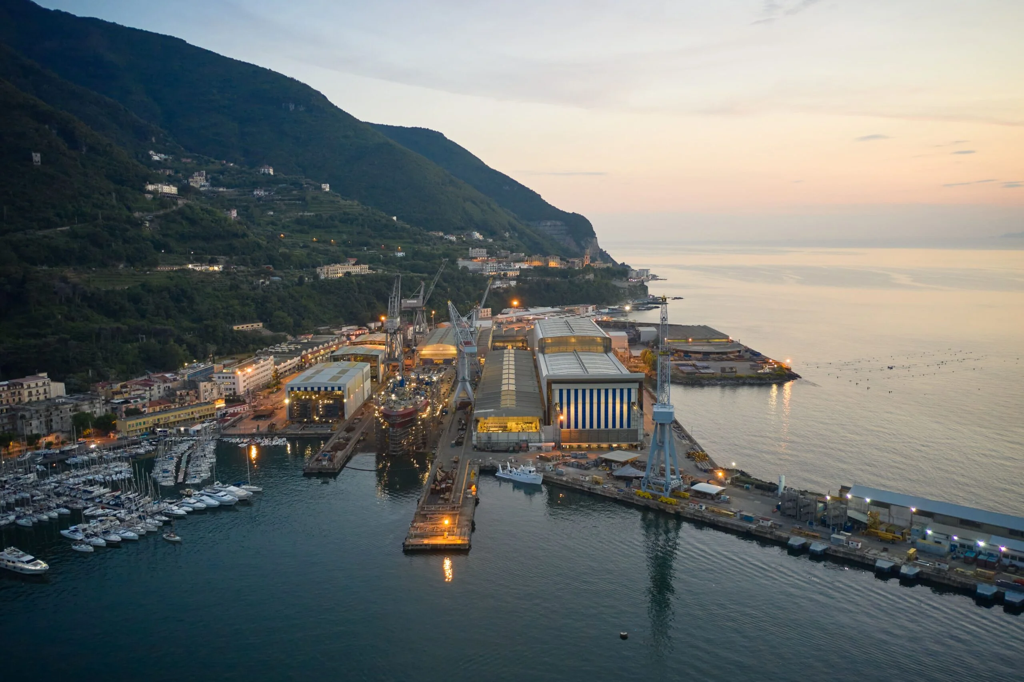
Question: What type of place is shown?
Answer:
port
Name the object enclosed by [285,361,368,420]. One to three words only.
building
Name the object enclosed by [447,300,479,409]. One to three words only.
crane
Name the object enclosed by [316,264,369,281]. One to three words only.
building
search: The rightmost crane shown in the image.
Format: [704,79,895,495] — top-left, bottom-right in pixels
[635,292,689,497]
